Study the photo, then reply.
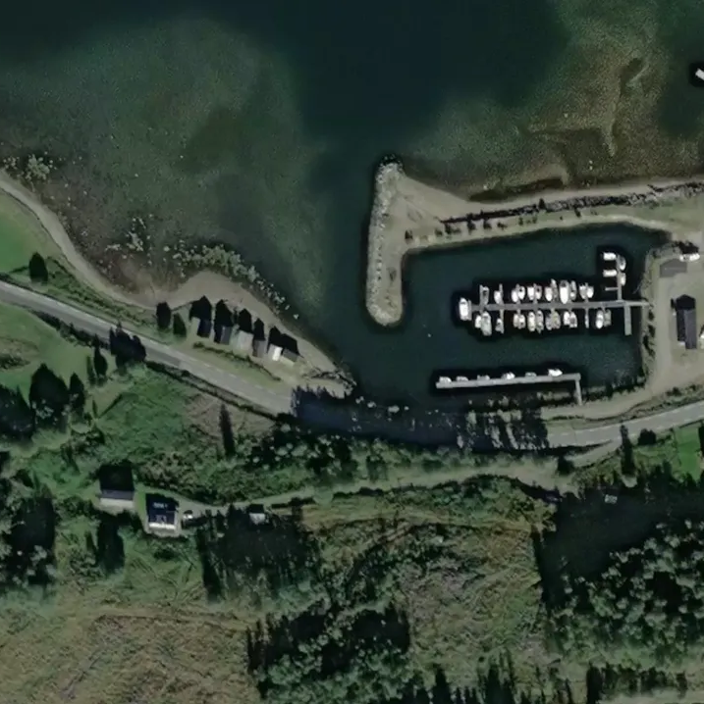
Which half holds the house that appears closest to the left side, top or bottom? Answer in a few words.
bottom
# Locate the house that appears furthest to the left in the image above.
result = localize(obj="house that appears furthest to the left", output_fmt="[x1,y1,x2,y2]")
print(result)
[100,489,135,510]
